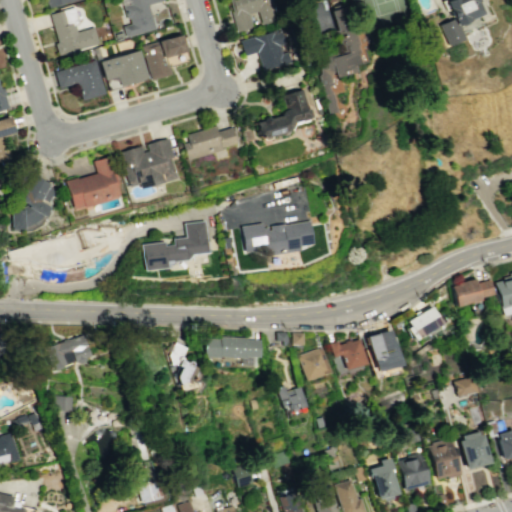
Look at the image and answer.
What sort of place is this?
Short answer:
residential area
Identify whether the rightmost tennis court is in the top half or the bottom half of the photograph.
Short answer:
top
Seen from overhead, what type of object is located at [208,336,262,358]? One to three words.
house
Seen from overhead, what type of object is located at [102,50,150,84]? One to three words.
house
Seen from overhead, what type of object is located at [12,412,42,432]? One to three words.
building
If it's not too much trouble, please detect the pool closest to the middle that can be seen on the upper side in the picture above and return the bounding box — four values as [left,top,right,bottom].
[132,186,158,199]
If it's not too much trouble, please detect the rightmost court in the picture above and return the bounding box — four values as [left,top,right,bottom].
[370,0,409,26]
